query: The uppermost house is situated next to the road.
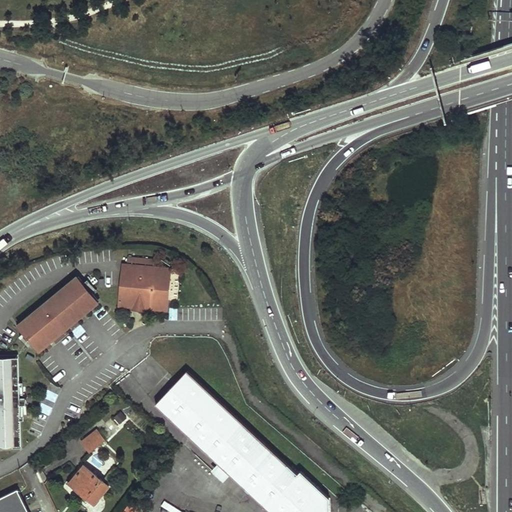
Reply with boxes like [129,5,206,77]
[117,254,170,312]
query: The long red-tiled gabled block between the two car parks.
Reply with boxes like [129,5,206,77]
[16,276,98,354]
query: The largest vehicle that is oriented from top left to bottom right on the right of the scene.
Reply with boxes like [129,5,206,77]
[344,427,364,446]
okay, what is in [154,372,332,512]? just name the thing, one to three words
warehouse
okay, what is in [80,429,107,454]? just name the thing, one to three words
house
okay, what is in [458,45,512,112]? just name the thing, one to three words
bridge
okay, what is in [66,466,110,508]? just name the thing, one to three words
house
